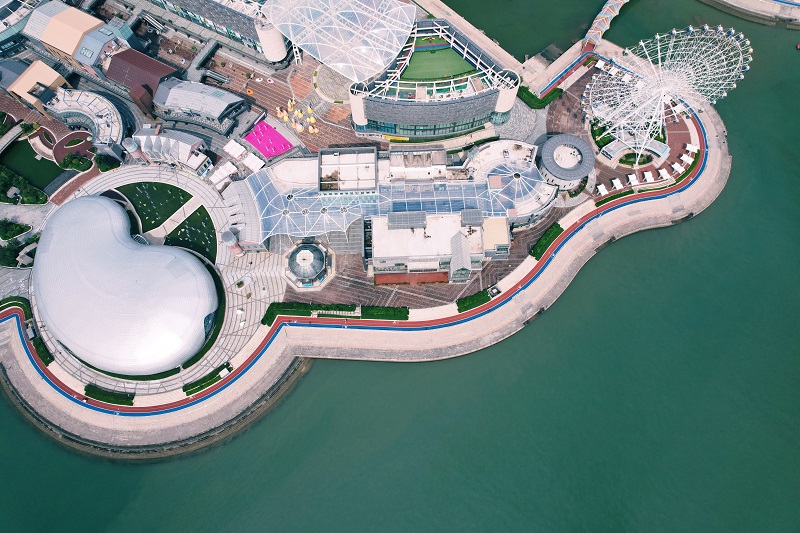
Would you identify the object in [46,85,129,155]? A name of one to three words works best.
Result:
building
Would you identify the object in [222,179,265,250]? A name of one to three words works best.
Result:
building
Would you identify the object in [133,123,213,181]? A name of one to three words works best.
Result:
house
